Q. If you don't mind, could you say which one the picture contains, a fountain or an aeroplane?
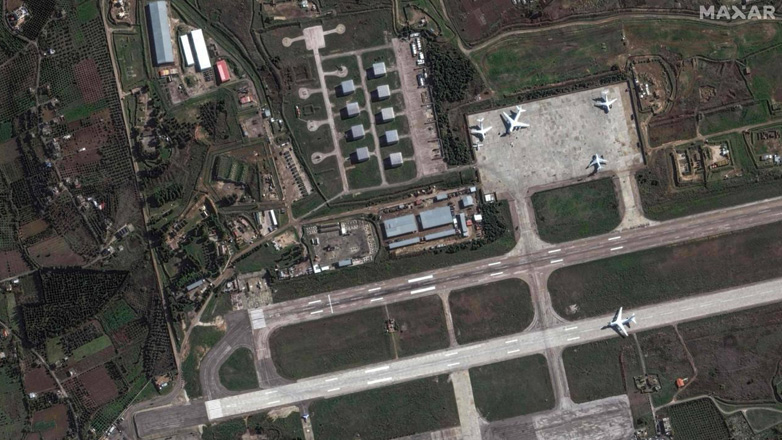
aeroplane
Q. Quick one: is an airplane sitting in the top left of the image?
No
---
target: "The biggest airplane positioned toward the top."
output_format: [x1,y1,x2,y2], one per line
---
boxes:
[503,105,530,132]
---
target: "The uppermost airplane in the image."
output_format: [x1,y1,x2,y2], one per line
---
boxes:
[597,89,618,110]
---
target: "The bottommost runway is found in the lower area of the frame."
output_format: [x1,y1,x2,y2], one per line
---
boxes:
[205,280,782,420]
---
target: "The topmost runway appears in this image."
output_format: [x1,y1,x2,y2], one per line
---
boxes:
[247,196,782,332]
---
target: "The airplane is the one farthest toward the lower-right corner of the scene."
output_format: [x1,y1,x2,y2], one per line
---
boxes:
[608,306,635,335]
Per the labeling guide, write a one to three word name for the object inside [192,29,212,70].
building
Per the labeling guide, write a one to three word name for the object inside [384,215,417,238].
building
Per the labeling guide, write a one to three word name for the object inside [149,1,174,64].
hangar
